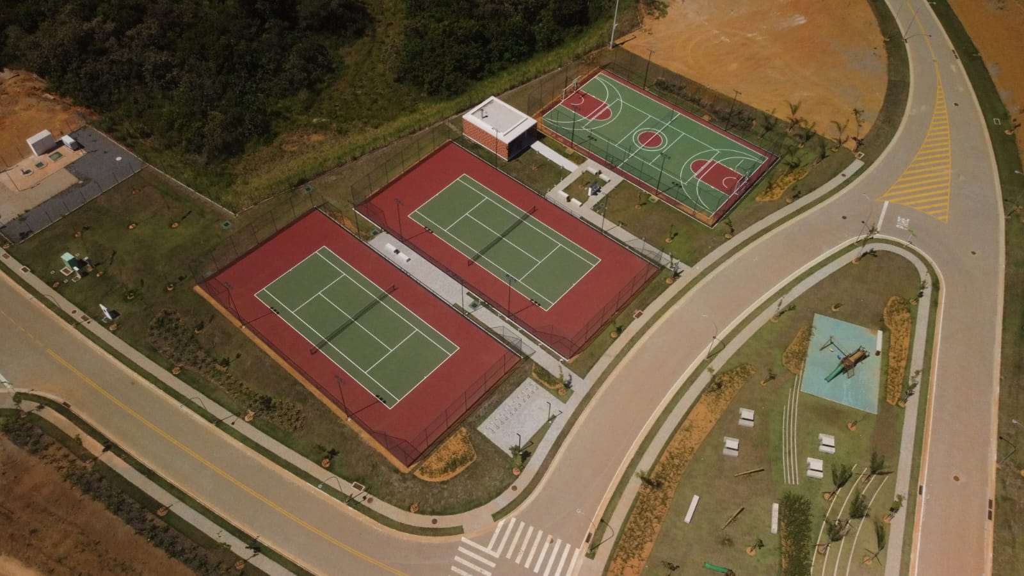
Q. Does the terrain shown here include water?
No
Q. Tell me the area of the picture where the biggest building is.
top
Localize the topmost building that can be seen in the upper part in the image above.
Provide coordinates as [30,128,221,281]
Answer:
[462,95,539,161]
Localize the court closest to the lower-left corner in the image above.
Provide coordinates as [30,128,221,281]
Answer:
[196,205,525,468]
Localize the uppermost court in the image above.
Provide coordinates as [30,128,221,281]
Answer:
[529,64,781,228]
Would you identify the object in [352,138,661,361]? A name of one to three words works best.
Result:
tennis court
